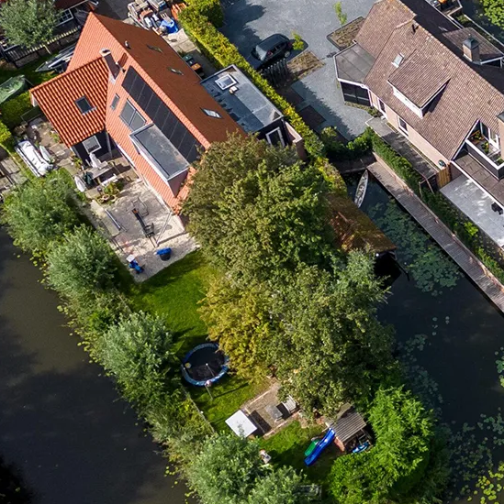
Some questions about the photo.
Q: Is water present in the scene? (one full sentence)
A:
Yes, some water is visible.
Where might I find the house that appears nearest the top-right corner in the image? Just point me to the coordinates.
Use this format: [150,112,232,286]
[333,0,504,229]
